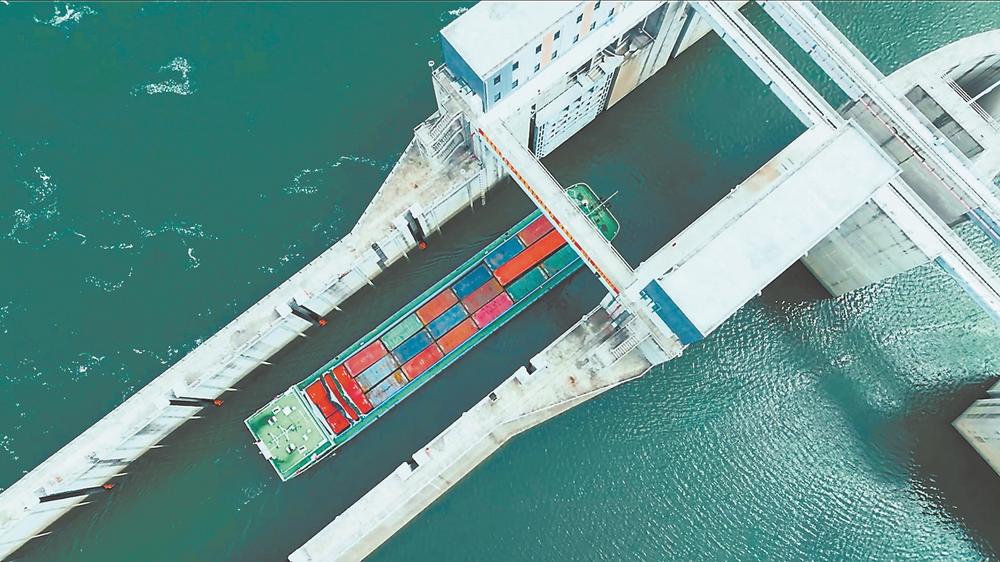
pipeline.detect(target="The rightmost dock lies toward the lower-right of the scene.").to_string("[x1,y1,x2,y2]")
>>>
[951,378,1000,475]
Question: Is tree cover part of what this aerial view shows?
No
